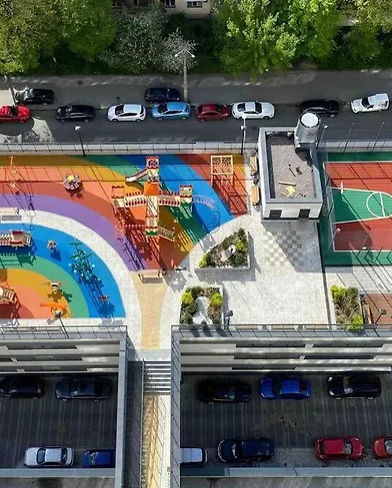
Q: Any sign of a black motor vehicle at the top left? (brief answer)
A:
Yes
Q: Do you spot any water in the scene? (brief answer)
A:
No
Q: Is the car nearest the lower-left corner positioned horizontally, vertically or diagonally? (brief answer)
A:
horizontally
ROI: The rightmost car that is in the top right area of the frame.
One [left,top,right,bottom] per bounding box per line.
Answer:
[349,90,392,116]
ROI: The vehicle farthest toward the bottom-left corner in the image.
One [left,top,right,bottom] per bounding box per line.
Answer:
[22,445,75,470]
